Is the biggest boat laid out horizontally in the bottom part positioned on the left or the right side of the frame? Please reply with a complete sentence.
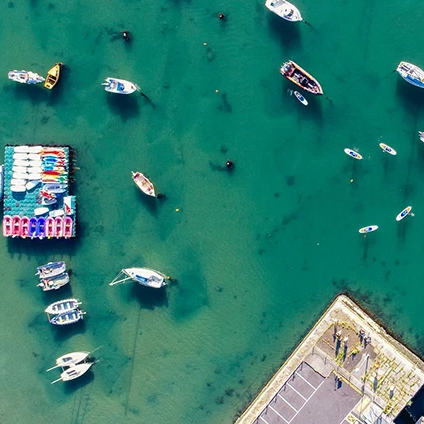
It is on the left.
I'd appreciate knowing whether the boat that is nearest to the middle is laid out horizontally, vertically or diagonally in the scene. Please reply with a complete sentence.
Seen from above, the boat that is nearest to the middle lies diagonally.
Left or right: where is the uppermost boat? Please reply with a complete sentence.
The uppermost boat appears in the right half of the scene.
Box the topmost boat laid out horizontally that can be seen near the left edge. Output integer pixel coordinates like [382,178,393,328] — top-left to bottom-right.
[7,69,46,86]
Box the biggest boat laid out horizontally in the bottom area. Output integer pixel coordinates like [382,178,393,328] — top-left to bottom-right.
[106,268,172,288]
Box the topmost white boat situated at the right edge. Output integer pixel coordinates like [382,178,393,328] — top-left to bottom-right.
[397,61,424,90]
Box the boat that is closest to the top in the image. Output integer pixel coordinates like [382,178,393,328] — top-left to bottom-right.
[265,0,320,35]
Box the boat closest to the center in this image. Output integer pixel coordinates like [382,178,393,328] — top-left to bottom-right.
[130,172,162,200]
